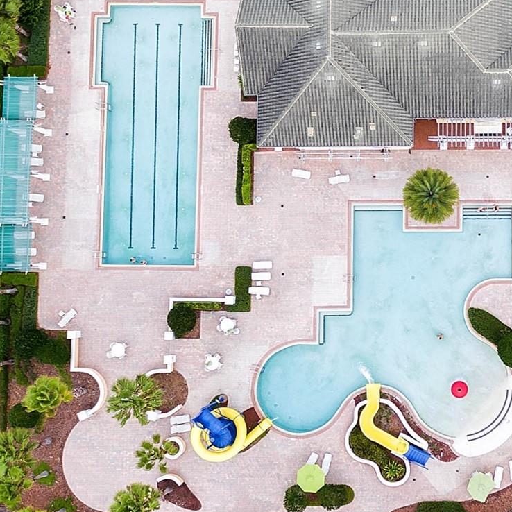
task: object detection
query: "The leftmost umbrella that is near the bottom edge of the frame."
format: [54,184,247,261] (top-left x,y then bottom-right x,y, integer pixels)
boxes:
[296,463,325,491]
